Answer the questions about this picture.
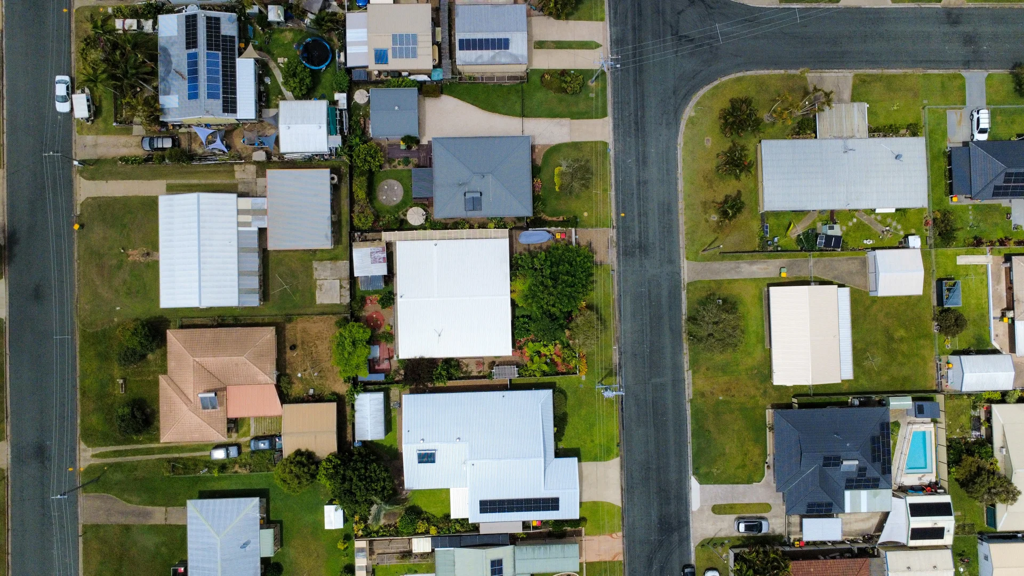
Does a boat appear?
Yes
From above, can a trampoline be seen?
Yes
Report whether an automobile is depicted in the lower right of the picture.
Yes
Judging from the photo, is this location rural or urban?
urban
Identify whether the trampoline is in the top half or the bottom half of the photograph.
top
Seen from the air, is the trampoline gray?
No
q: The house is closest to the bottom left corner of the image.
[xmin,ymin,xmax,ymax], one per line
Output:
[186,495,279,576]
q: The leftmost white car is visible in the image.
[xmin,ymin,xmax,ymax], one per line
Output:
[54,76,74,114]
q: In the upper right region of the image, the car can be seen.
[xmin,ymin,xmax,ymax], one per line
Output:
[968,108,990,141]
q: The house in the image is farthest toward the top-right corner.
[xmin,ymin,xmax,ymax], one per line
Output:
[941,140,1024,200]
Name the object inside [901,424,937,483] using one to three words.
swimming pool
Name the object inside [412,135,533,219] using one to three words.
house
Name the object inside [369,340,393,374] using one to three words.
shed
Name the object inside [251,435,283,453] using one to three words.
car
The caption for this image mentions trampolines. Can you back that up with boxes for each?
[296,34,334,70]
